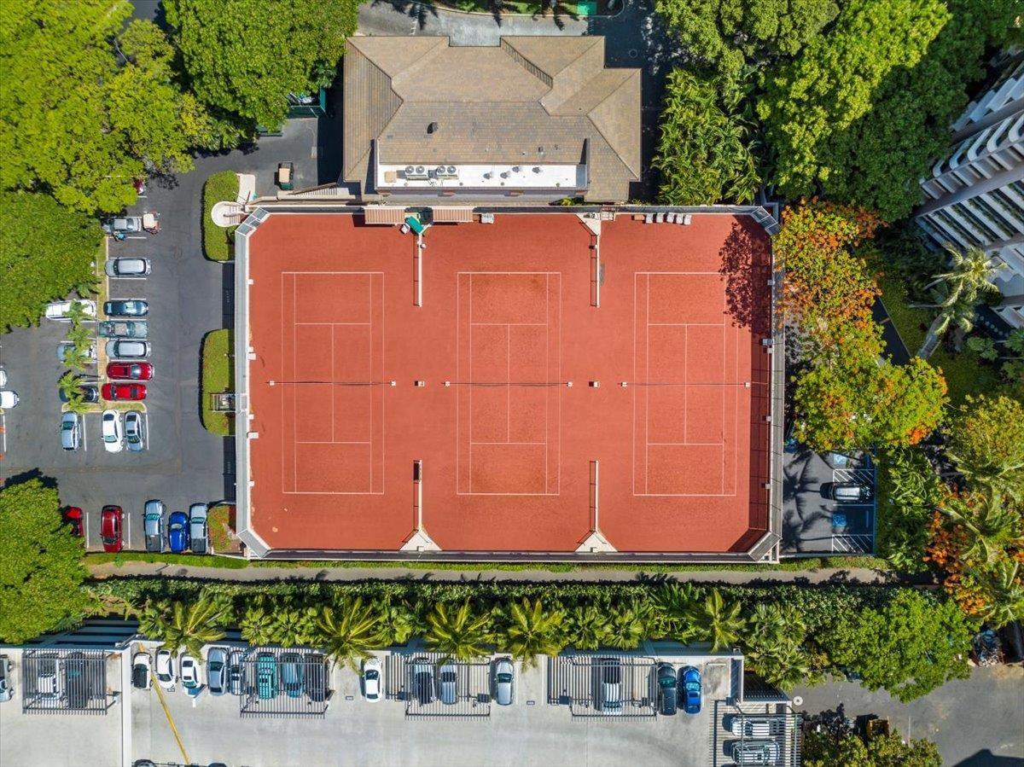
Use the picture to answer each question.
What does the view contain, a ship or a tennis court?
tennis court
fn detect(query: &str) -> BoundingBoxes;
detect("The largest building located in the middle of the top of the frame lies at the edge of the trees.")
[343,35,642,210]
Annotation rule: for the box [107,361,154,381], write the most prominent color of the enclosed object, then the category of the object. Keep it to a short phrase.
red car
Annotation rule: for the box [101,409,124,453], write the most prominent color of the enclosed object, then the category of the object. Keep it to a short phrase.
white car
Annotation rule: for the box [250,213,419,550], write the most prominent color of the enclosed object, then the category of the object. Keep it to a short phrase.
red tennis court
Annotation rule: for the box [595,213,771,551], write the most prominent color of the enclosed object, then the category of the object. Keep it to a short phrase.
red tennis court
